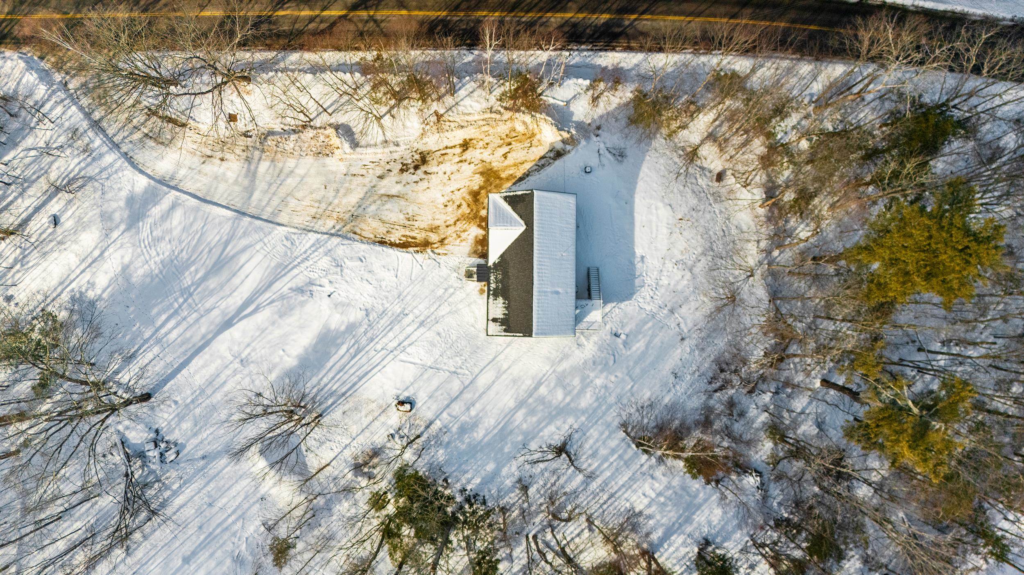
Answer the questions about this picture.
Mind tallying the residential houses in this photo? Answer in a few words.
1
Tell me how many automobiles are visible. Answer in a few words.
zero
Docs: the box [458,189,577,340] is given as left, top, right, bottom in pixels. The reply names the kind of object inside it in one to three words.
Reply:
house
